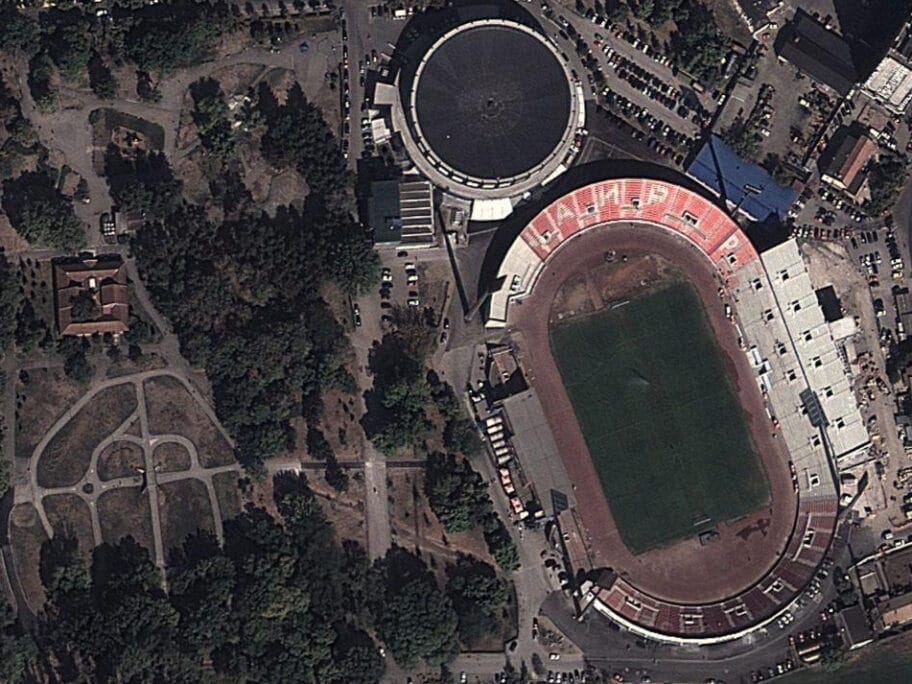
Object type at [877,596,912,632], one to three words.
house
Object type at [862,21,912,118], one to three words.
building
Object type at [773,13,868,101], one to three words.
building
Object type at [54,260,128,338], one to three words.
house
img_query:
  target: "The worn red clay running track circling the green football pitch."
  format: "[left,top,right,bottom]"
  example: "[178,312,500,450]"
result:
[522,221,797,605]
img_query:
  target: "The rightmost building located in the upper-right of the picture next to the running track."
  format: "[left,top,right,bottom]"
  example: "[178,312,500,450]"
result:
[684,135,800,224]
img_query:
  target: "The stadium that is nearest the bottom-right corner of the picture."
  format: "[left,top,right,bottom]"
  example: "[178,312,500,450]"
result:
[487,177,872,646]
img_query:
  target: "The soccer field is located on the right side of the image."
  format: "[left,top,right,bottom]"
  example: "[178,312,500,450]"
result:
[551,279,771,552]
